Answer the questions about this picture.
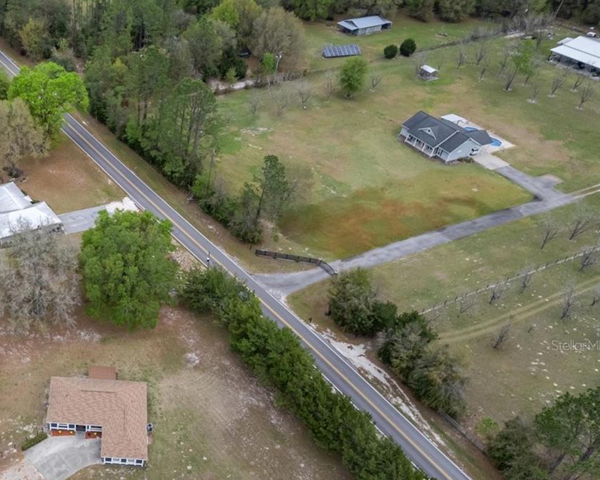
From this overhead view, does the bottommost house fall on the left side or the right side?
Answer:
left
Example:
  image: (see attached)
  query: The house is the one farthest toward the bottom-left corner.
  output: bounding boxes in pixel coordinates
[46,370,149,467]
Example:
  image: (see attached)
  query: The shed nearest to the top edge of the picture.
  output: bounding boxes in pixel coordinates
[336,15,393,36]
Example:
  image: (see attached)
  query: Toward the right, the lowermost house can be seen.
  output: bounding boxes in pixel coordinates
[399,110,493,161]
